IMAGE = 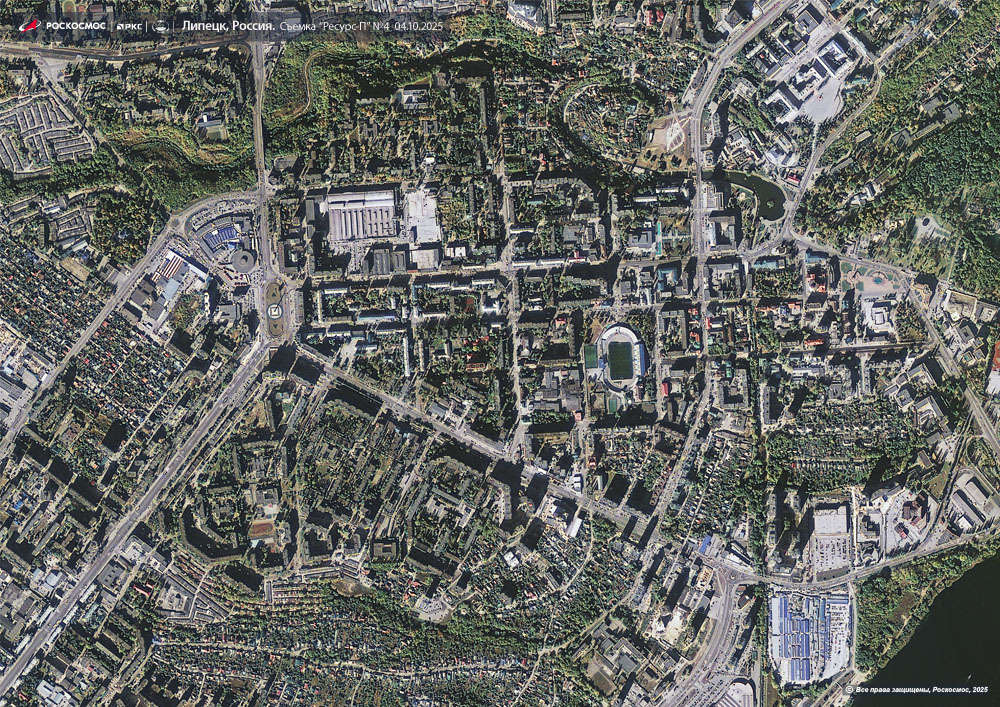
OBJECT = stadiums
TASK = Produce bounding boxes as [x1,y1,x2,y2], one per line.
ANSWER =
[602,325,646,392]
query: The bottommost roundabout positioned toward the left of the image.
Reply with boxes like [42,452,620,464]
[267,278,284,336]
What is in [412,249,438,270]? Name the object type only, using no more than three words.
building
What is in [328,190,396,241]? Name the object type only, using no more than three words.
building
